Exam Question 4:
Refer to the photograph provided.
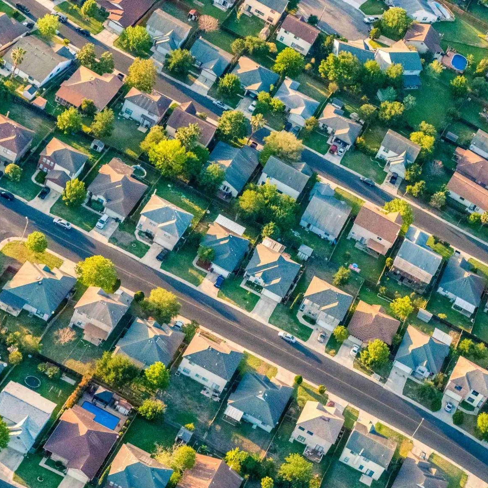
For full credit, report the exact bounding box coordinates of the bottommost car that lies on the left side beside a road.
[172,316,185,333]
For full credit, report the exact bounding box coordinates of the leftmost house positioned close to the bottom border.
[0,380,58,470]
